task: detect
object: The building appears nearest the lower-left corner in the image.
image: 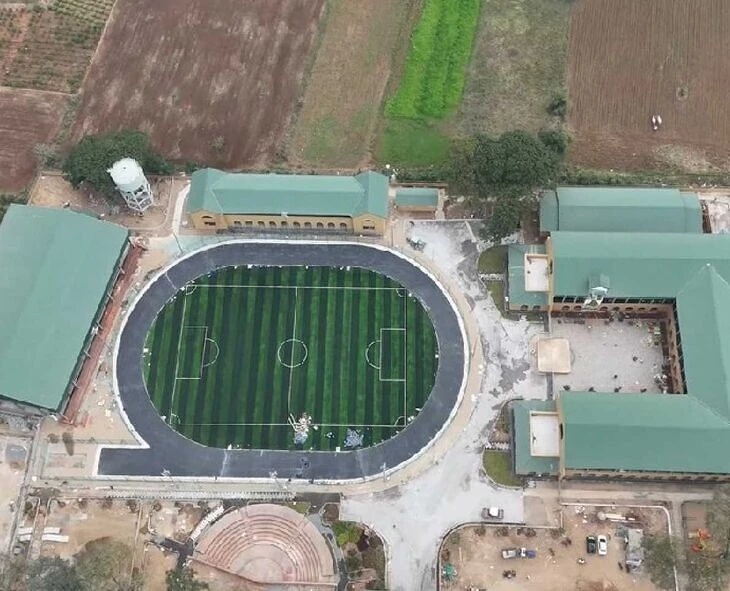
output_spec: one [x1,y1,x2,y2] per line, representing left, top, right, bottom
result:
[0,207,134,425]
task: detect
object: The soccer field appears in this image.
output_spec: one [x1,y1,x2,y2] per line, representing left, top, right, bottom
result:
[145,264,440,451]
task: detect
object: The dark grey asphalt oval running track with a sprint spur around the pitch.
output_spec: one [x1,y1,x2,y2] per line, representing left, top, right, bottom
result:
[92,239,471,482]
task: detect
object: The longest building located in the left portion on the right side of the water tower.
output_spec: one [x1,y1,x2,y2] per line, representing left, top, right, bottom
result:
[185,160,391,234]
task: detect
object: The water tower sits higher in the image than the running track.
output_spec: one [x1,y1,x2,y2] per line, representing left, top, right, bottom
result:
[107,158,154,215]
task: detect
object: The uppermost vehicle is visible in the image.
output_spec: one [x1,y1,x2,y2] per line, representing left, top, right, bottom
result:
[482,507,507,519]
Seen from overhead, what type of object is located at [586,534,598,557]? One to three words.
vehicle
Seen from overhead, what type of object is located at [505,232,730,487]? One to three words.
building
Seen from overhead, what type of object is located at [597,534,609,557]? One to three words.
vehicle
